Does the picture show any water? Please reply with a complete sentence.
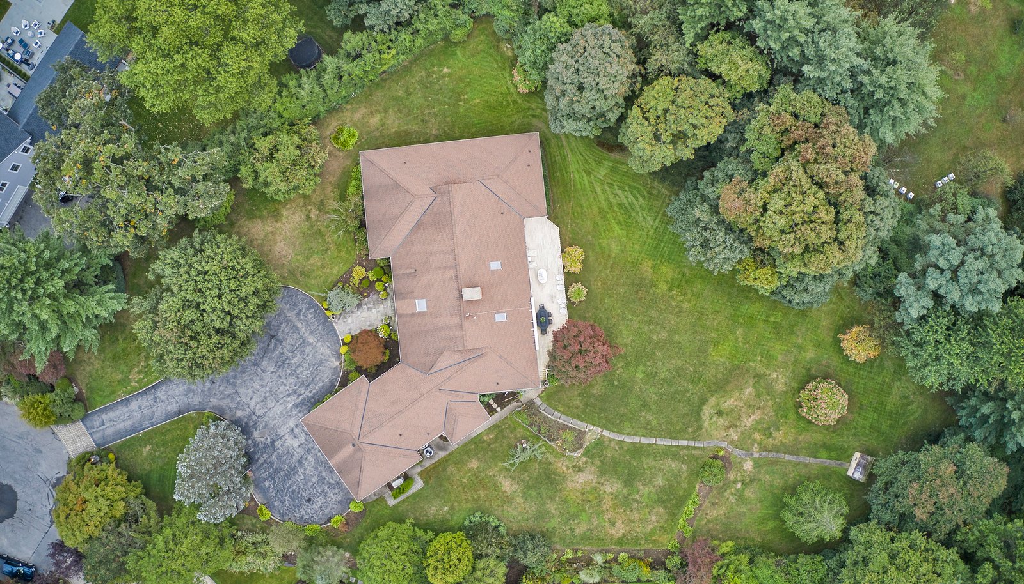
No, the scene doesn't show any water.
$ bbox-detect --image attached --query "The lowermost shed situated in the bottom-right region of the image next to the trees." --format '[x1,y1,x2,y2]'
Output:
[847,452,874,483]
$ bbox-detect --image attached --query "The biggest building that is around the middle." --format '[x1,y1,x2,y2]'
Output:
[299,131,548,503]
